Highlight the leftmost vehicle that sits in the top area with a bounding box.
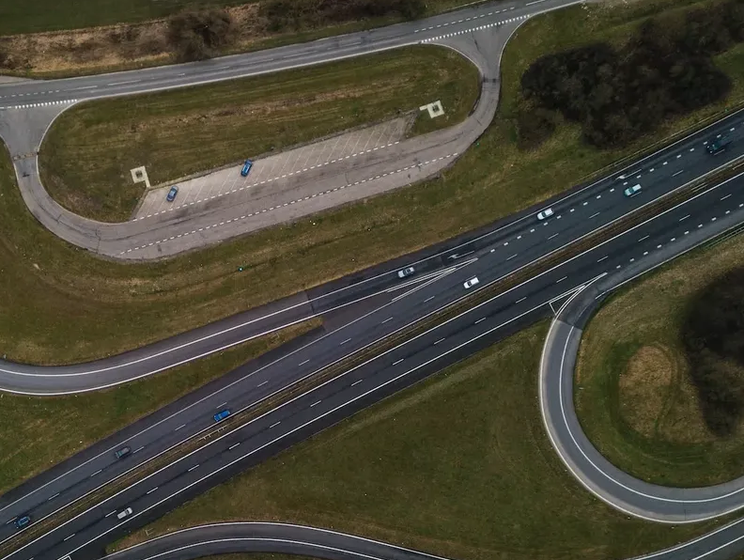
[166,185,178,201]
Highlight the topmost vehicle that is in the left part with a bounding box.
[241,158,253,176]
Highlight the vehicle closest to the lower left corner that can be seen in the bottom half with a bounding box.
[13,515,31,528]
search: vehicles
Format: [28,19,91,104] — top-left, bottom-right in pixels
[114,446,131,459]
[214,409,231,422]
[13,515,31,528]
[463,275,482,289]
[241,158,253,176]
[166,185,178,201]
[624,182,645,196]
[537,207,556,219]
[398,266,416,277]
[116,506,133,520]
